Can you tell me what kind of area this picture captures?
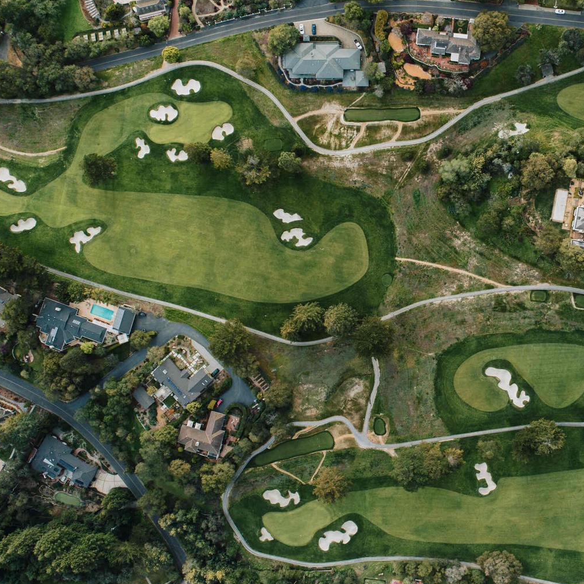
golf course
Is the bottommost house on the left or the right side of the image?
left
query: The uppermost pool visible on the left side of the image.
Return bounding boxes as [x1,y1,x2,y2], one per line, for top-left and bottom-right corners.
[89,303,115,321]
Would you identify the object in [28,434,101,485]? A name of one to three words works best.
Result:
house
